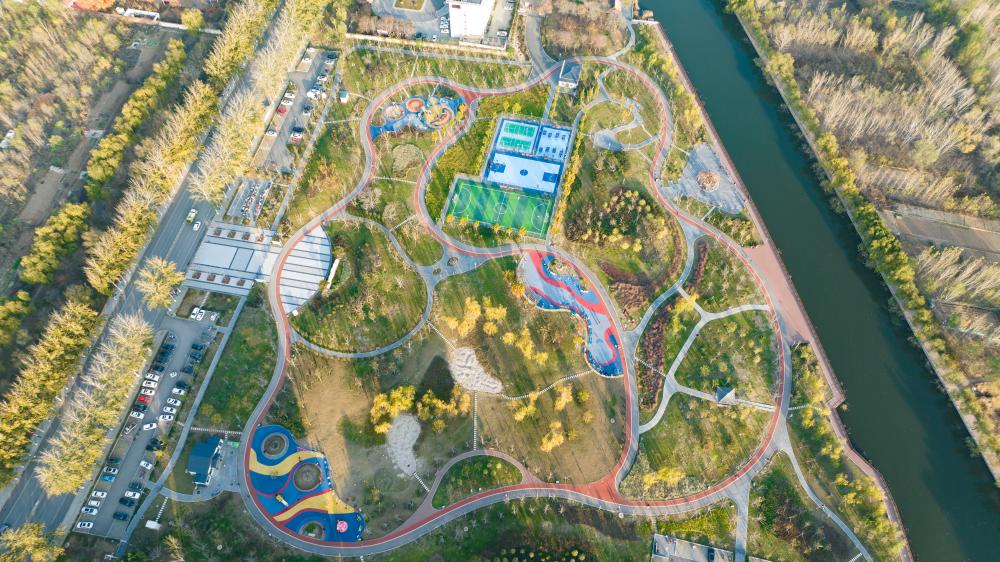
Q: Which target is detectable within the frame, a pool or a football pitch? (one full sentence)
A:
It is a football pitch that can be seen here.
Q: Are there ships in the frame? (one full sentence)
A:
No, this view has no ship in it.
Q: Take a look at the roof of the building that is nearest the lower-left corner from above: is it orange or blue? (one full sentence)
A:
The roof of the building that is nearest the lower-left corner looks blue in the image.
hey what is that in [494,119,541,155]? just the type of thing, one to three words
sports court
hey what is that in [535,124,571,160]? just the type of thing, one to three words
tennis court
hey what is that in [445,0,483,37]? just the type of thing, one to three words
building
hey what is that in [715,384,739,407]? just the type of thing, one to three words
building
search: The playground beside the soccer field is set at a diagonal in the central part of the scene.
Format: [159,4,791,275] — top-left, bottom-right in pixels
[517,251,629,379]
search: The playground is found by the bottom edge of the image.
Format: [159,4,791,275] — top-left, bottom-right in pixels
[253,424,365,538]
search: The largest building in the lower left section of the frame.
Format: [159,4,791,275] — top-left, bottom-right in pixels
[188,435,226,487]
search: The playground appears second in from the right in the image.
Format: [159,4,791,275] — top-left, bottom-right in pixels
[373,96,463,139]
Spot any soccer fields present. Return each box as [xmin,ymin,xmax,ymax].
[442,178,556,238]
